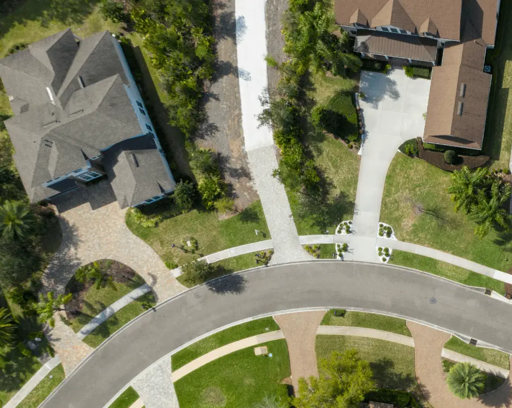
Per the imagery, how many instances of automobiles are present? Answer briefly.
zero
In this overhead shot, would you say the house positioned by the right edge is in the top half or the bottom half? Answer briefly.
top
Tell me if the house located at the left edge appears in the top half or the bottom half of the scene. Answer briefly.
top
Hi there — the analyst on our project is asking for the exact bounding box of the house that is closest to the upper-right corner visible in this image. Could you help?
[335,0,500,152]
